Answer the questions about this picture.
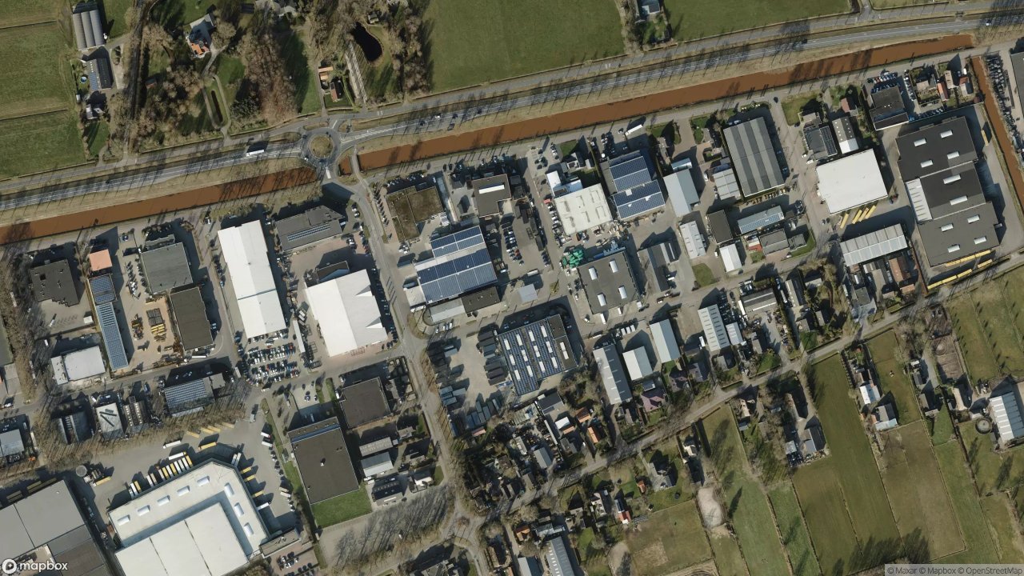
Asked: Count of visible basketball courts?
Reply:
0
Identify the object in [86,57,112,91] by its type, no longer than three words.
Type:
barn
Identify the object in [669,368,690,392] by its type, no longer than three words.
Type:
house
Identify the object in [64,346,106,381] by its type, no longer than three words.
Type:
building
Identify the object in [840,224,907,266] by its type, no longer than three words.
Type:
shed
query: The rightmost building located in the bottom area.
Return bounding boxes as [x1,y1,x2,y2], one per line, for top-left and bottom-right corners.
[989,392,1024,437]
